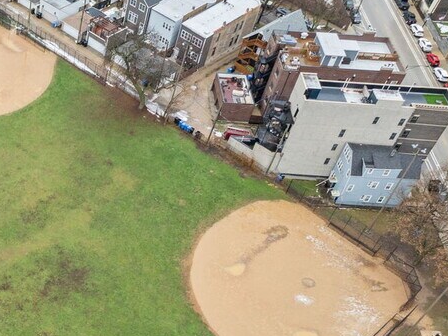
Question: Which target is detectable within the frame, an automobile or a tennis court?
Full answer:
The one in the frame is an automobile.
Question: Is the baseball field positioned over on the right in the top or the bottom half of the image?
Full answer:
The baseball field positioned over on the right is in the bottom half of the image.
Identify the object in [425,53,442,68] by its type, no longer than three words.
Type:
car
